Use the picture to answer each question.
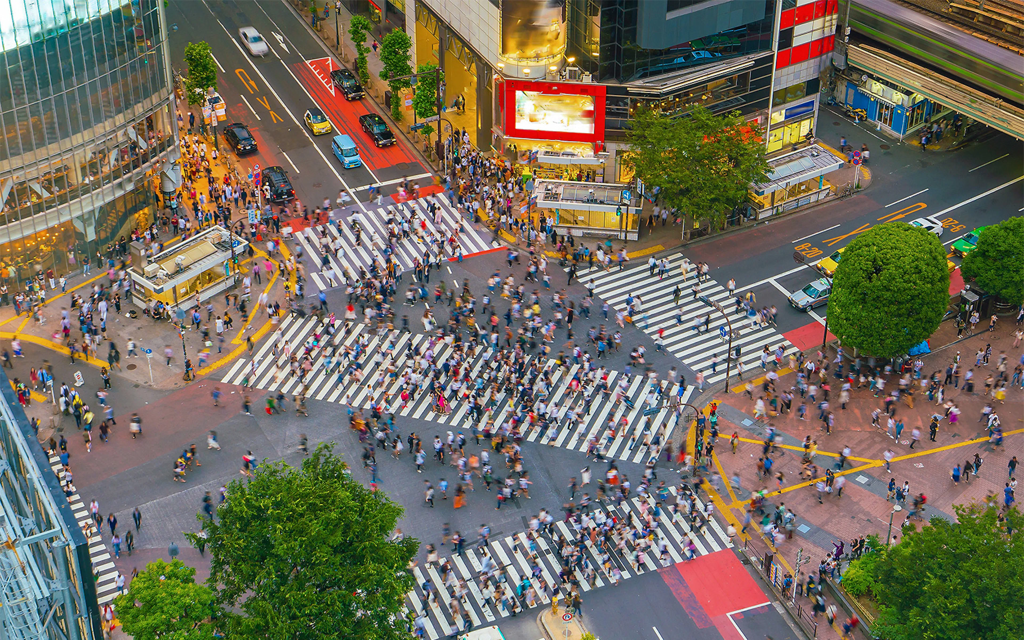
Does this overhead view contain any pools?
No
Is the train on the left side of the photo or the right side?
right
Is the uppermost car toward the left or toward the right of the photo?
left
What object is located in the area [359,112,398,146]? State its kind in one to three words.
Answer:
car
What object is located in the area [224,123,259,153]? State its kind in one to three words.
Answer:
car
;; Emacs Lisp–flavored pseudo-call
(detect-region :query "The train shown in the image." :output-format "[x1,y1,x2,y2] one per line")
[837,0,1024,105]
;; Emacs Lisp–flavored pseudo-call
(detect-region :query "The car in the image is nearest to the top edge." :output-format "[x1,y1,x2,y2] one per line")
[237,27,270,55]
